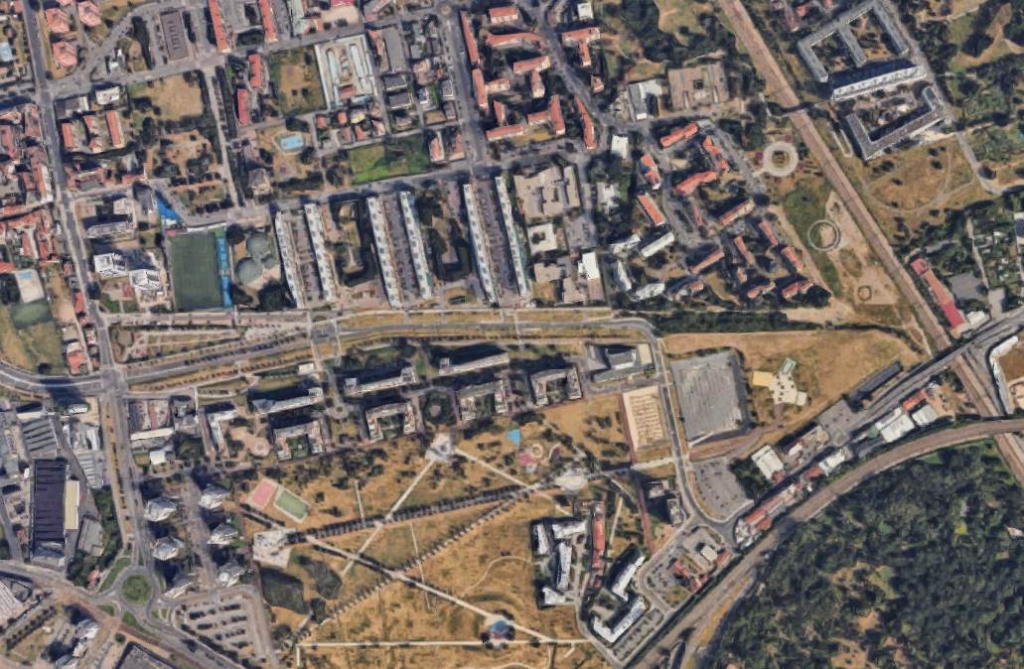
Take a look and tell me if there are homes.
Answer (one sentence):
Yes, a home appears in the view.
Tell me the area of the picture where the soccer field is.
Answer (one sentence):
The soccer field sits in the left section of the image.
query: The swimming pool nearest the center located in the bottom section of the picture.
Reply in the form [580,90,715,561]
[507,429,521,444]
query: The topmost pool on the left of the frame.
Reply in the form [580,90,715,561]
[273,131,310,155]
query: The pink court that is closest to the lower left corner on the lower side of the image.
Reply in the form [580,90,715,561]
[250,478,279,509]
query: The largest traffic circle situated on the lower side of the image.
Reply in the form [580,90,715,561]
[116,567,160,612]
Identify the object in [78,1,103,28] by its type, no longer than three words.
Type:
house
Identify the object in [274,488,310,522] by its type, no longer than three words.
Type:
sports court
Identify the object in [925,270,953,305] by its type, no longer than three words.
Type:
shed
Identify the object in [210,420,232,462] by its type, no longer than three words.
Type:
building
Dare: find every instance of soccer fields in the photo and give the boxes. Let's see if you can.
[169,230,223,312]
